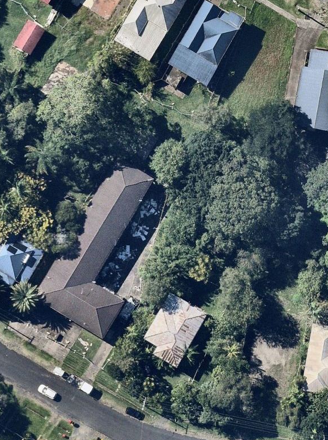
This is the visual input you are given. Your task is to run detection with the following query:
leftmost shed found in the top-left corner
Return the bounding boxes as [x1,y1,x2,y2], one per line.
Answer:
[13,19,46,55]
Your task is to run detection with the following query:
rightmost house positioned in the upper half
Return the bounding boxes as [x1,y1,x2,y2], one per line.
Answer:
[292,49,328,131]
